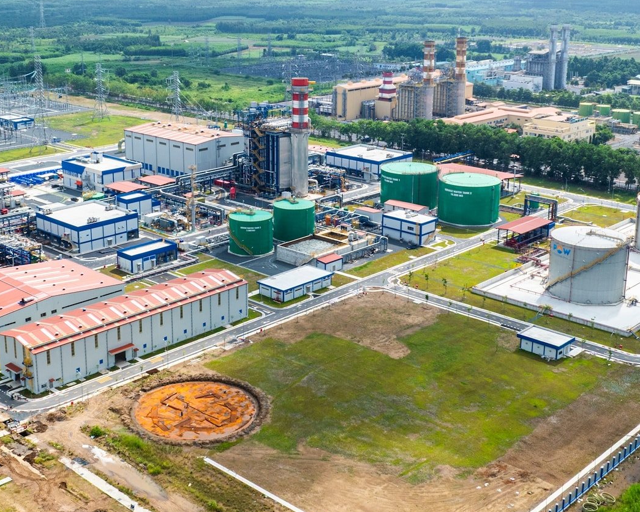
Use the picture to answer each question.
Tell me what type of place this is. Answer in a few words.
industrial area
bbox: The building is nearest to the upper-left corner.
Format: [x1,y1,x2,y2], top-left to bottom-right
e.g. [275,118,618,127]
[0,115,34,130]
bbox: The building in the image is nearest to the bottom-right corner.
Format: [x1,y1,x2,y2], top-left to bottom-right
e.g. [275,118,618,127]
[515,325,578,359]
